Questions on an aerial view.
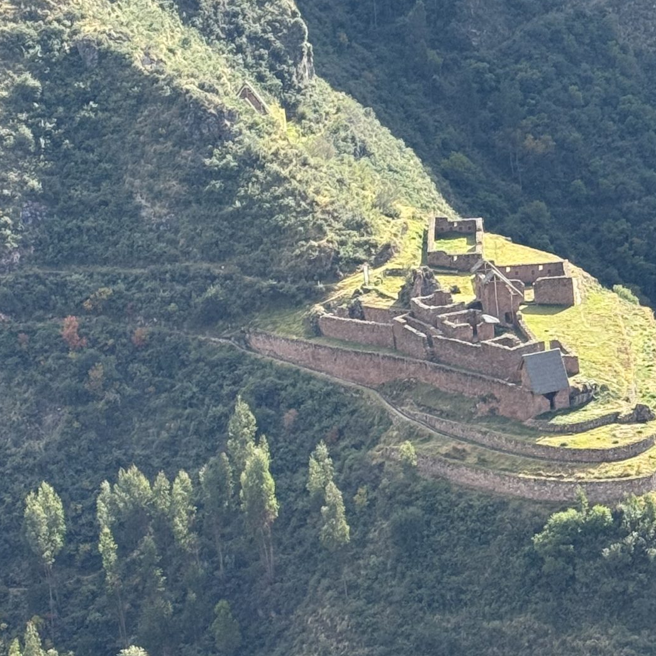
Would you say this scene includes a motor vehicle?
No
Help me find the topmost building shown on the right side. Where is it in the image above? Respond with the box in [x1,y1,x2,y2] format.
[426,215,485,271]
